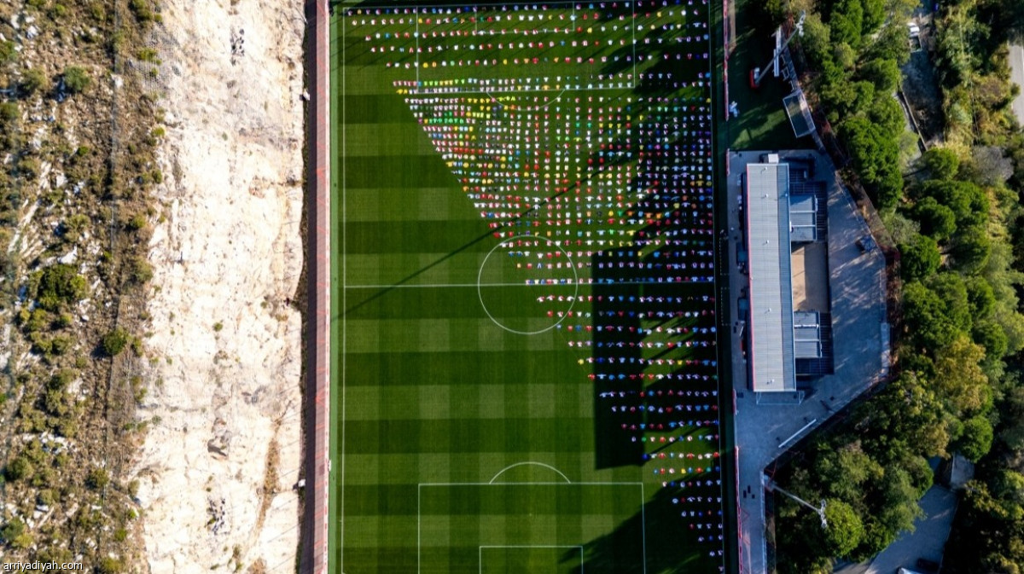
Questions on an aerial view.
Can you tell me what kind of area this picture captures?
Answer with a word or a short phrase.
sports ground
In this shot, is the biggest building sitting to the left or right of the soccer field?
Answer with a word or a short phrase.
to the right of it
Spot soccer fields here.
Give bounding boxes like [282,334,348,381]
[329,0,741,574]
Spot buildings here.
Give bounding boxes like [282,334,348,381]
[943,450,978,491]
[743,152,795,394]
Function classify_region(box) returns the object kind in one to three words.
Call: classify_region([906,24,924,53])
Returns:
vehicle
